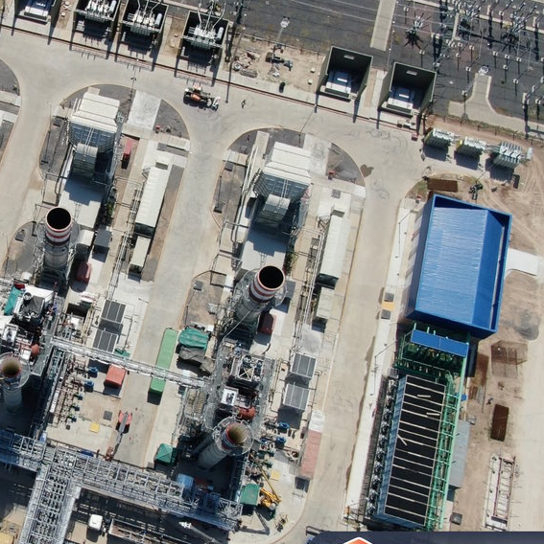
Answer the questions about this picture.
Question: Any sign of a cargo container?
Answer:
Yes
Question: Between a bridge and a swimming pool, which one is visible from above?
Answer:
bridge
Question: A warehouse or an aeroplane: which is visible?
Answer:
warehouse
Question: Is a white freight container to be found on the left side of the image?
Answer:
Yes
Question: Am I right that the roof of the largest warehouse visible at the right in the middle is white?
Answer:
No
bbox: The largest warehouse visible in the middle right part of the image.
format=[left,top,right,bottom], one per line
[392,193,514,350]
